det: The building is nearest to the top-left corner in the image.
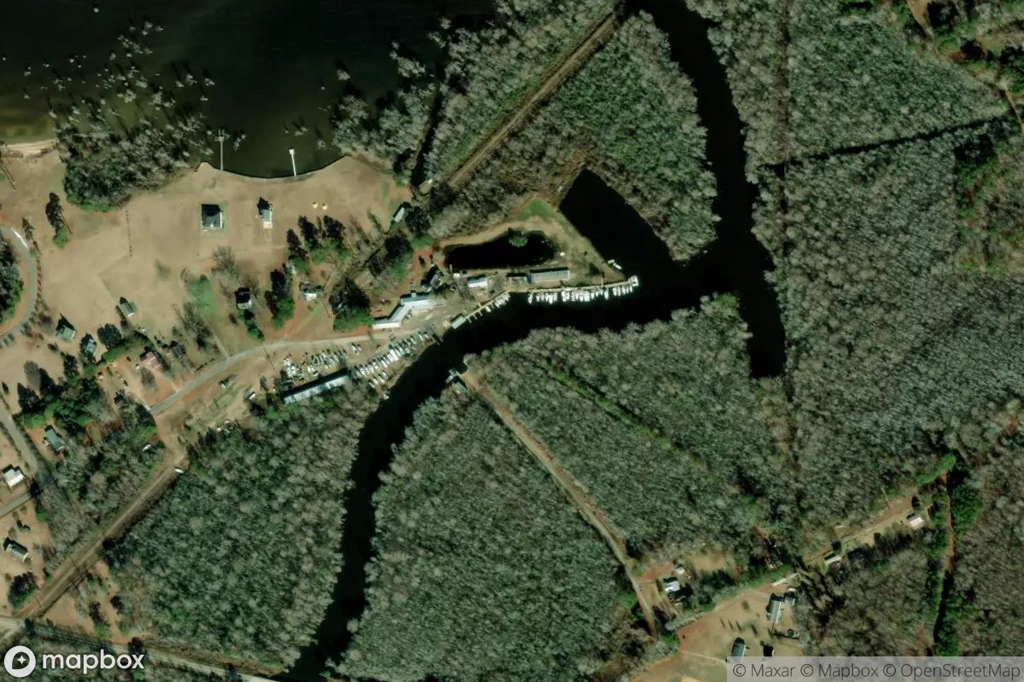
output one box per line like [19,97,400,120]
[203,209,222,228]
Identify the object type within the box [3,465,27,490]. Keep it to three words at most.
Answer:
house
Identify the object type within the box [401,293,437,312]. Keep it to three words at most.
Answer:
building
